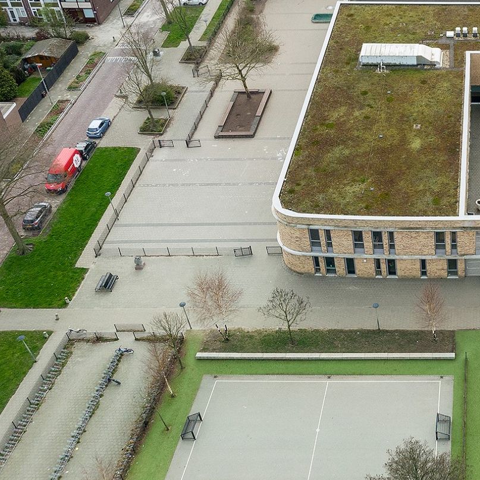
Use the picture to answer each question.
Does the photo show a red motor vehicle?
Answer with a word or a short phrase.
Yes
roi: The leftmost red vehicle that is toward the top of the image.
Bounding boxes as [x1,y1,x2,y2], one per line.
[46,148,85,193]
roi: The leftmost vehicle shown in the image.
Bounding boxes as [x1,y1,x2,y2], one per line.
[20,203,54,232]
